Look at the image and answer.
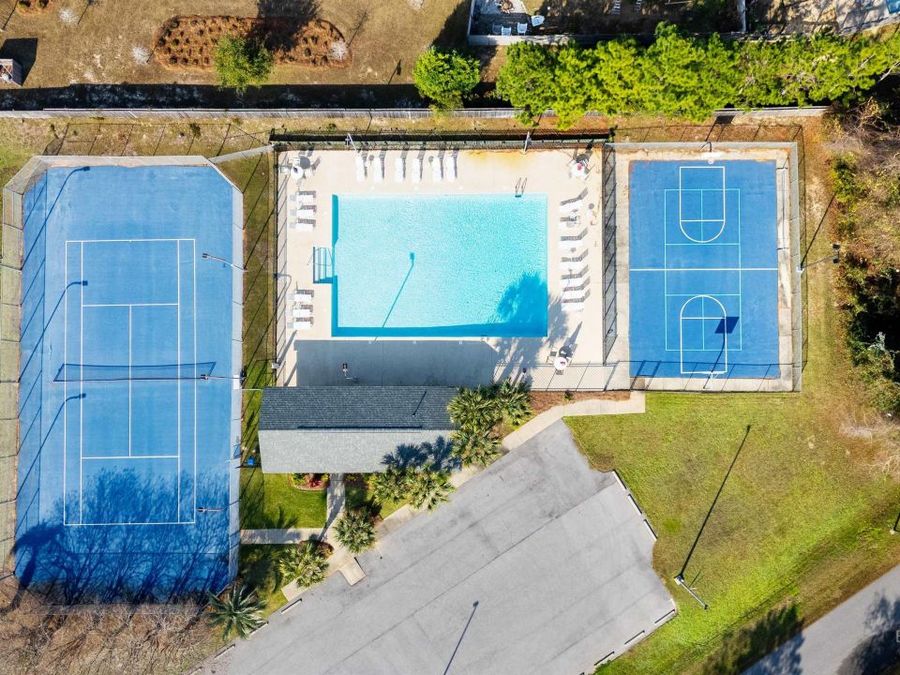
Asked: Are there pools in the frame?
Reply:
Yes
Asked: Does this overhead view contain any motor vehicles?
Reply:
No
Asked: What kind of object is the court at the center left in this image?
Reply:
tennis court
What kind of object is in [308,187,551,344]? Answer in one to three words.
swimming pool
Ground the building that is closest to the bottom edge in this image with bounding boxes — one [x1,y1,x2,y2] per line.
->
[258,388,460,473]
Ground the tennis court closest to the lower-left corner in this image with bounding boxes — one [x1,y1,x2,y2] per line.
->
[14,167,243,605]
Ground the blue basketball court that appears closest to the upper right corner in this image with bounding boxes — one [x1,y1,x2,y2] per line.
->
[604,149,792,392]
